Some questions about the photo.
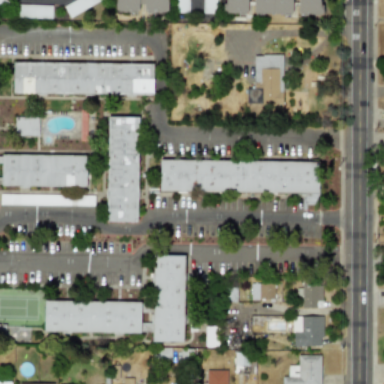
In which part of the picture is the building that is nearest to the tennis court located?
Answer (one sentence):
The building that is nearest to the tennis court sits in the bottom left section of the image.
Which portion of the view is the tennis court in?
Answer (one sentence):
The tennis court appears toward the bottom left of the photo.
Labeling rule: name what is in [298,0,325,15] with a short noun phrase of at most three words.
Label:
building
